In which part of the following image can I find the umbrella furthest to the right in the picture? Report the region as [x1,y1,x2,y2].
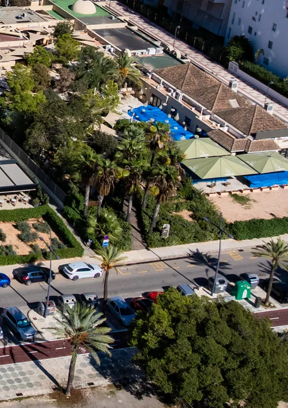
[236,151,288,175]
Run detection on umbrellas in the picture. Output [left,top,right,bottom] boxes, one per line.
[175,138,230,162]
[236,151,288,175]
[185,156,258,186]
